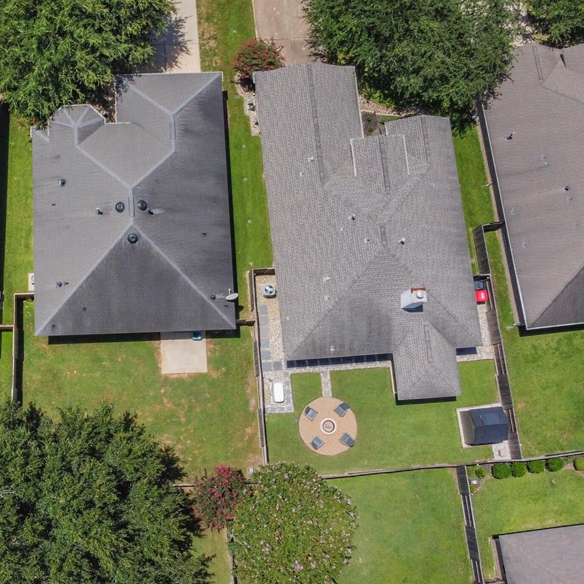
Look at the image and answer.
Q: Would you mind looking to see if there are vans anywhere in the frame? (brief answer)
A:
No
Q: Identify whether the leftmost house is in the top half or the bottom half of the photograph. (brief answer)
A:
top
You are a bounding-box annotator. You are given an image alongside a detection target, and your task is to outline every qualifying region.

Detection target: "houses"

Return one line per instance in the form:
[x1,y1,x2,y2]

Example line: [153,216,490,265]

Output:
[485,523,584,584]
[253,63,483,402]
[31,71,237,337]
[470,43,584,331]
